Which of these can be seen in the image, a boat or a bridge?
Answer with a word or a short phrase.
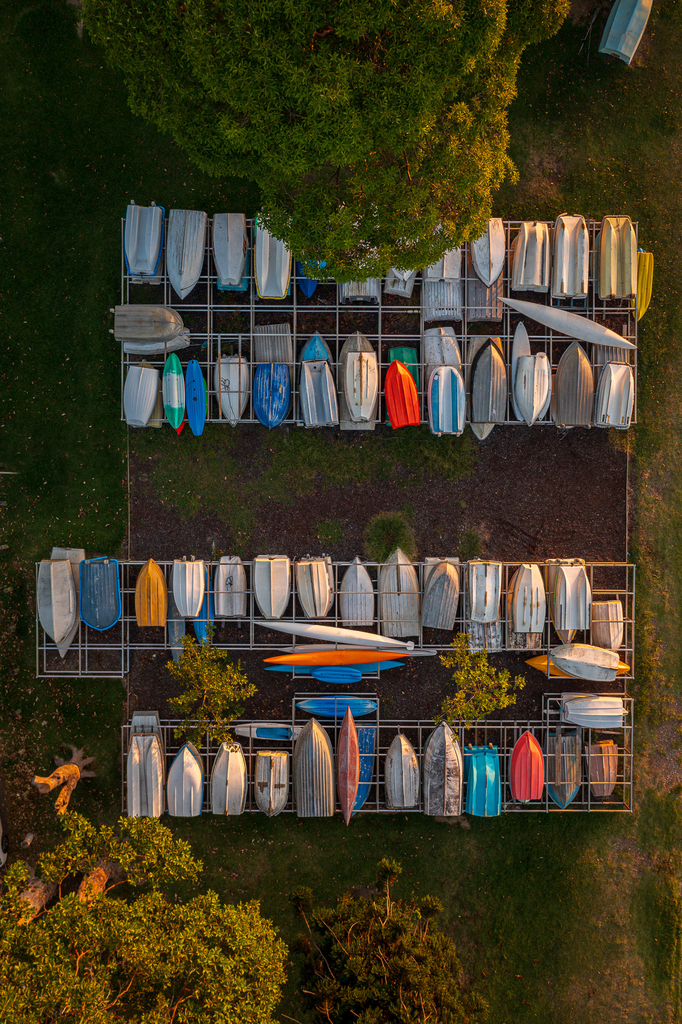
boat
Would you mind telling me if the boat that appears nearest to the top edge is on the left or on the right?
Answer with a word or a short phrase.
right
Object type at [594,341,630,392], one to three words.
boat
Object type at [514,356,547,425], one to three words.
boat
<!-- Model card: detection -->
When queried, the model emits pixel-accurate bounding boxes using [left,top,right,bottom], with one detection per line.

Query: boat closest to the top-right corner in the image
[599,0,650,63]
